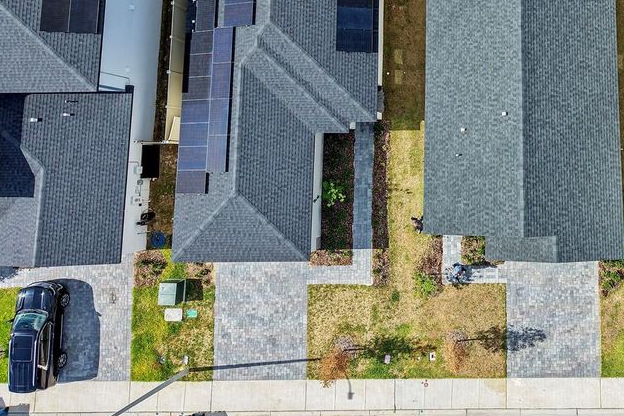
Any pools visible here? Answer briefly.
No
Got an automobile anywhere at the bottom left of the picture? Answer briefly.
Yes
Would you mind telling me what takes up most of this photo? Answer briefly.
buildings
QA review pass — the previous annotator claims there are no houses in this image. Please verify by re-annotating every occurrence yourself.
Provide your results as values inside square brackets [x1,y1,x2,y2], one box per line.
[424,0,624,264]
[172,0,385,262]
[0,0,160,271]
